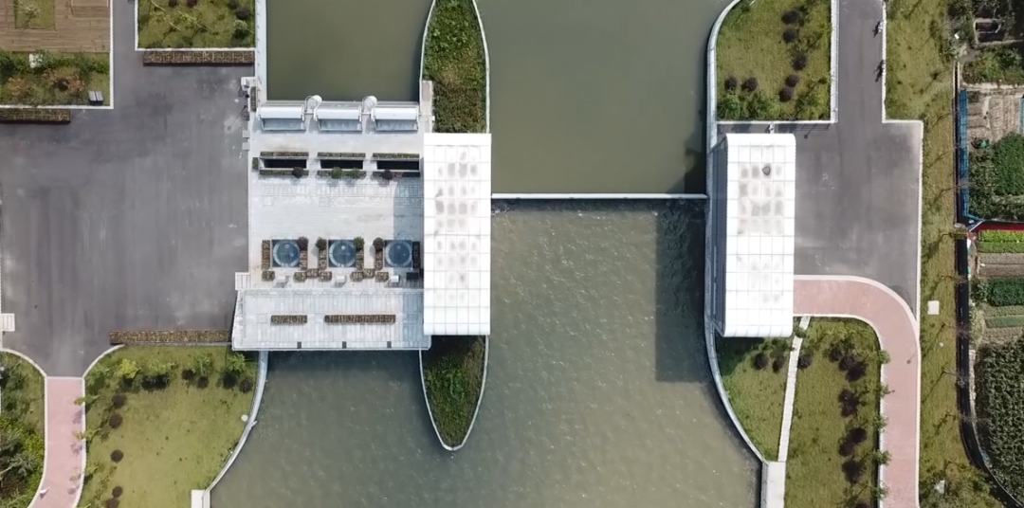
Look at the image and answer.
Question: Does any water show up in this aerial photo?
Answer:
Yes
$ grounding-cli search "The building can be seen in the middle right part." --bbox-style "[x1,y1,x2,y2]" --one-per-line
[713,133,793,335]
